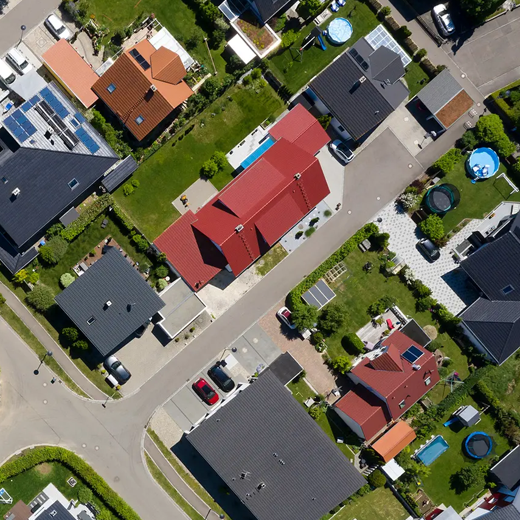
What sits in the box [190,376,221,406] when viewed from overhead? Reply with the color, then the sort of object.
red car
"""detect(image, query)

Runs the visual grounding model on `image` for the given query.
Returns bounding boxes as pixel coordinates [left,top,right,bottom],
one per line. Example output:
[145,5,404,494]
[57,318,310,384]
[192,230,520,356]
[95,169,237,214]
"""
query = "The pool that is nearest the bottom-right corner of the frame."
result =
[411,430,449,465]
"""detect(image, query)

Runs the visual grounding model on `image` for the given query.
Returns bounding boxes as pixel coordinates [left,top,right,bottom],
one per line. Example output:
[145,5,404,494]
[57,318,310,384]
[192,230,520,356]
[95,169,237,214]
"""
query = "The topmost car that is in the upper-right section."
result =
[430,3,456,38]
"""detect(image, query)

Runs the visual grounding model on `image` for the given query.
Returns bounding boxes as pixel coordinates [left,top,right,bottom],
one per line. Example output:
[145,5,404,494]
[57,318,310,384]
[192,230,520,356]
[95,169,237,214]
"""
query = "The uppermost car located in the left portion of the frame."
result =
[43,11,74,43]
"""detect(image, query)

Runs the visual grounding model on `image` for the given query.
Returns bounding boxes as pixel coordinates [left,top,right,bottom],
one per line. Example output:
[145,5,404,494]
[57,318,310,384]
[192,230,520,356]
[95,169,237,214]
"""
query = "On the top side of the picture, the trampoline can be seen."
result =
[428,182,463,214]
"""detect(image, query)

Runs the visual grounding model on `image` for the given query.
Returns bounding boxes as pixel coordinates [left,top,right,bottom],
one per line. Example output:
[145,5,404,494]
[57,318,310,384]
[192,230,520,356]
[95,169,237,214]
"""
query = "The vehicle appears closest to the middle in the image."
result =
[274,304,298,332]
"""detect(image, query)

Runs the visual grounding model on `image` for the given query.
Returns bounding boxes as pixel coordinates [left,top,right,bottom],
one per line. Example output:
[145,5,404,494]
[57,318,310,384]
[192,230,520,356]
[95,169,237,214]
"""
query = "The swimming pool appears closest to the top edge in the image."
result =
[324,18,352,47]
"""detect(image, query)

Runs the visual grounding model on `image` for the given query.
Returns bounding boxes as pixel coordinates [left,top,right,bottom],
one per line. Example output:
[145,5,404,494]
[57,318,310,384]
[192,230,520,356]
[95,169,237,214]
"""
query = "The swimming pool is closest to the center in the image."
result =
[241,139,274,170]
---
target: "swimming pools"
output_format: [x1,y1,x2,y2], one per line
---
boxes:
[324,18,352,47]
[411,430,449,465]
[463,147,499,182]
[241,139,274,170]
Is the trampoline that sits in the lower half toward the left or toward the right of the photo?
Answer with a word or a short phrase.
right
